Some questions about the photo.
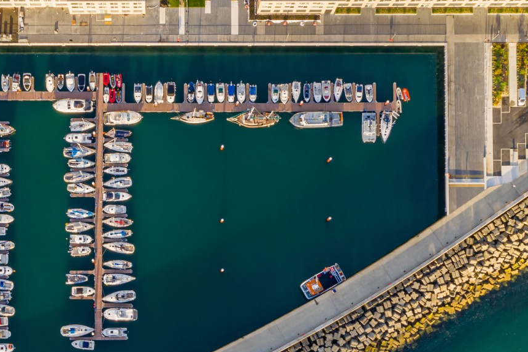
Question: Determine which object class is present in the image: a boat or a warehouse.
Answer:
boat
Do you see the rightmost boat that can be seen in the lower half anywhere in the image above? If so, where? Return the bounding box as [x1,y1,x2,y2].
[296,262,342,298]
